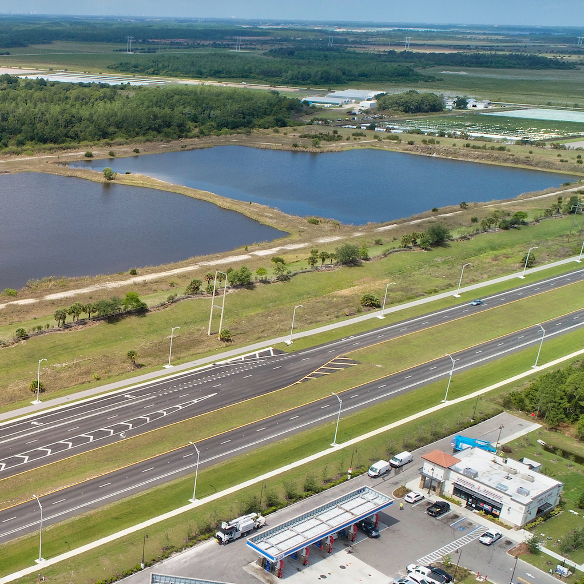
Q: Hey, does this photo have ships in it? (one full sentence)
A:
No, the scene contains no ship.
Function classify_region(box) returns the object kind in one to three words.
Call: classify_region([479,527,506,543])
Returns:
vehicle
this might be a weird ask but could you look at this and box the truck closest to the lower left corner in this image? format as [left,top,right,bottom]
[218,513,257,543]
